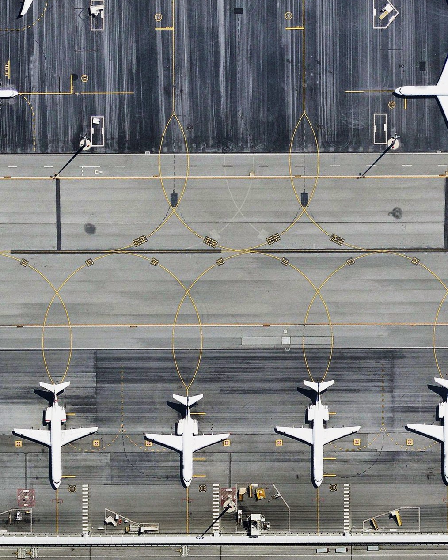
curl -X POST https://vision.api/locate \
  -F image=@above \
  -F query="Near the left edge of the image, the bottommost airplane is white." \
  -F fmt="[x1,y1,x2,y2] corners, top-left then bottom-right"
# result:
[13,381,98,489]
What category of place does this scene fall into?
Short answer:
airport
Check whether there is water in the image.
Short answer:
No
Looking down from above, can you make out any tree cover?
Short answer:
No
